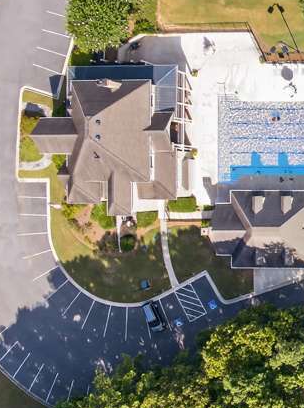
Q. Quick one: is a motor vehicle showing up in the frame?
Yes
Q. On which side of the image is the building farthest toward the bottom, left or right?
right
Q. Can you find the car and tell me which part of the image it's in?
bottom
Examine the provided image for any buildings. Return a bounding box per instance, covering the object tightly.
[31,65,194,216]
[210,190,304,268]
